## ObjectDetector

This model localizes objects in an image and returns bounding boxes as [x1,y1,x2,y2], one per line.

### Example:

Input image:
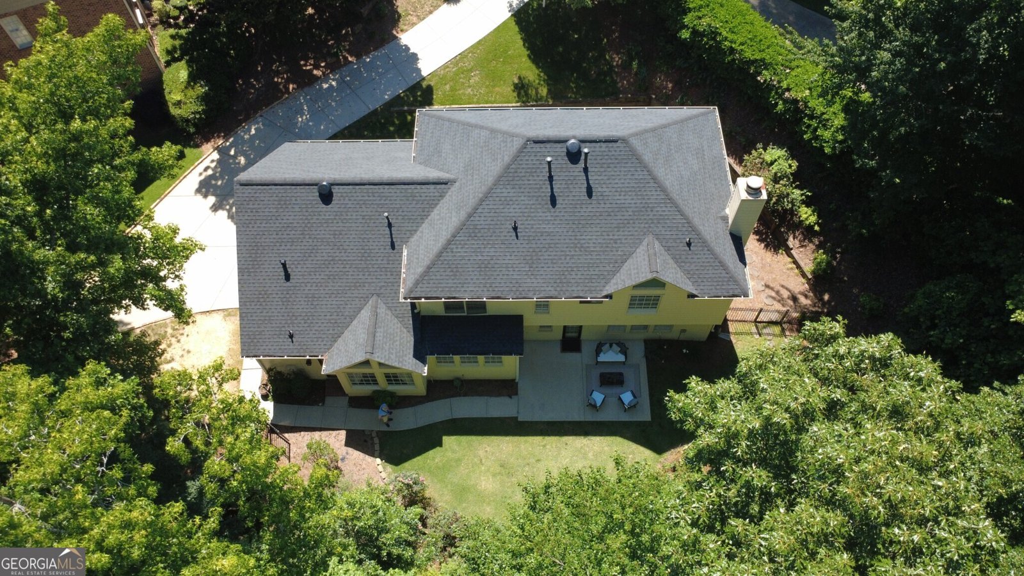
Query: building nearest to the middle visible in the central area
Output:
[236,106,768,395]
